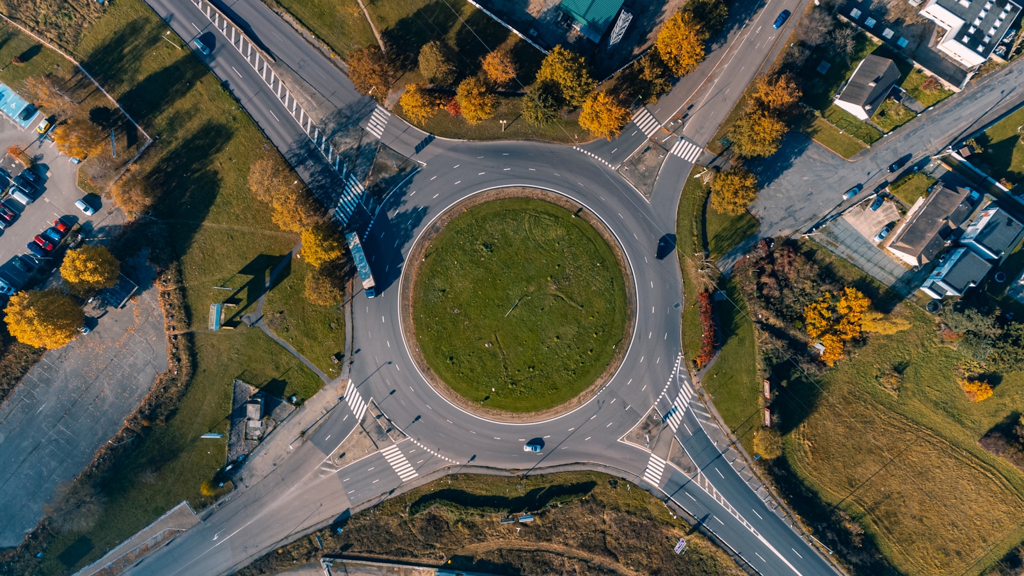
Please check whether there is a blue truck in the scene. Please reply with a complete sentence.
Yes, the photo shows a blue truck.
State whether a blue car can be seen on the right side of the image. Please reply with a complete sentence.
Yes, looking on the right side of the image, one can make out a blue car.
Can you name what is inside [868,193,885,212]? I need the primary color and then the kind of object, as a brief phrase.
blue car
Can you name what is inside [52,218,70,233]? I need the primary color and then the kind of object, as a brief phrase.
red car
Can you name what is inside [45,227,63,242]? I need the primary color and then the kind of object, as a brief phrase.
blue car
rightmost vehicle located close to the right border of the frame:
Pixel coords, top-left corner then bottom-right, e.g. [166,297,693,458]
[963,185,981,202]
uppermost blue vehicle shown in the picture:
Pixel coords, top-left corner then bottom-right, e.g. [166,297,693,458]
[772,10,789,29]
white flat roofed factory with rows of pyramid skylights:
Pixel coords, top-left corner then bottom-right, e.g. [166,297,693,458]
[923,0,1023,67]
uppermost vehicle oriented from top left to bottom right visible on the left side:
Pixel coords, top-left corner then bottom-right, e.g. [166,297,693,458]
[193,37,212,56]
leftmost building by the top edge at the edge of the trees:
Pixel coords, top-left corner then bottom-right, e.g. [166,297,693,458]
[559,0,625,49]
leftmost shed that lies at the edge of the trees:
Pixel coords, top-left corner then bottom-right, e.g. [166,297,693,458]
[106,274,142,307]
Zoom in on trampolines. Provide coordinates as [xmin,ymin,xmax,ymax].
[924,299,944,314]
